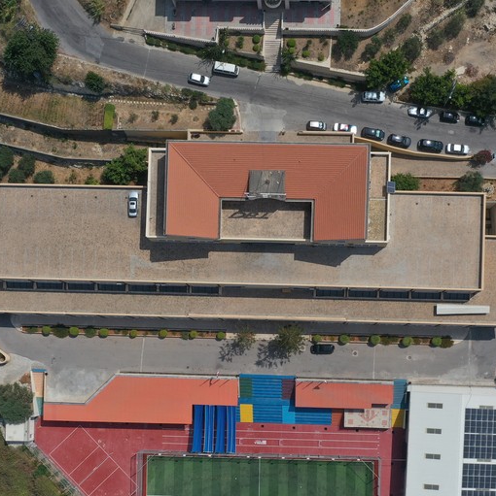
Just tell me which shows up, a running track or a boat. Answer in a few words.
running track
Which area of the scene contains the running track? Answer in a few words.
bottom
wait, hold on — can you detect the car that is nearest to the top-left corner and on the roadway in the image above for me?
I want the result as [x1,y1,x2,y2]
[189,73,211,86]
